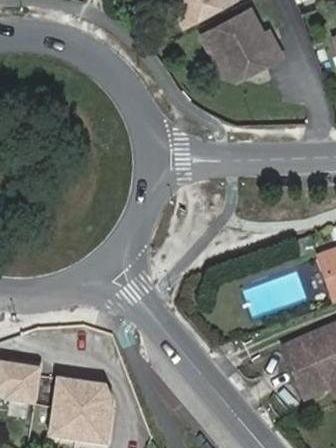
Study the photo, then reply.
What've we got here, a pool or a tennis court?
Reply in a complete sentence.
Visible in the photo is a pool.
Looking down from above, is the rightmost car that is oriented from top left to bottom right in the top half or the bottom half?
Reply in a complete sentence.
The rightmost car that is oriented from top left to bottom right is in the bottom half of the image.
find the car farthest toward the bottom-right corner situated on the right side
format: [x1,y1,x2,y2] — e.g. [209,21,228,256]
[272,373,292,386]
